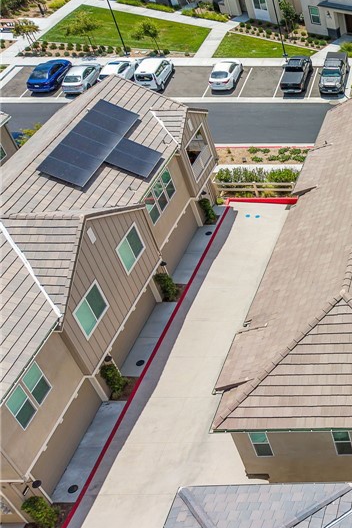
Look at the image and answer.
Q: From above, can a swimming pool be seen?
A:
No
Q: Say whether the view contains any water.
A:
No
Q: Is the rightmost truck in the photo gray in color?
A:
Yes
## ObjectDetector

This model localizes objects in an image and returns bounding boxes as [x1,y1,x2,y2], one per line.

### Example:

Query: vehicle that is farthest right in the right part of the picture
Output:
[316,51,349,91]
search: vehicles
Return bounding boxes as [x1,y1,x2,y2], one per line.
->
[277,53,312,91]
[94,59,139,84]
[134,54,175,86]
[26,59,70,91]
[316,51,349,91]
[209,58,245,89]
[59,60,104,92]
